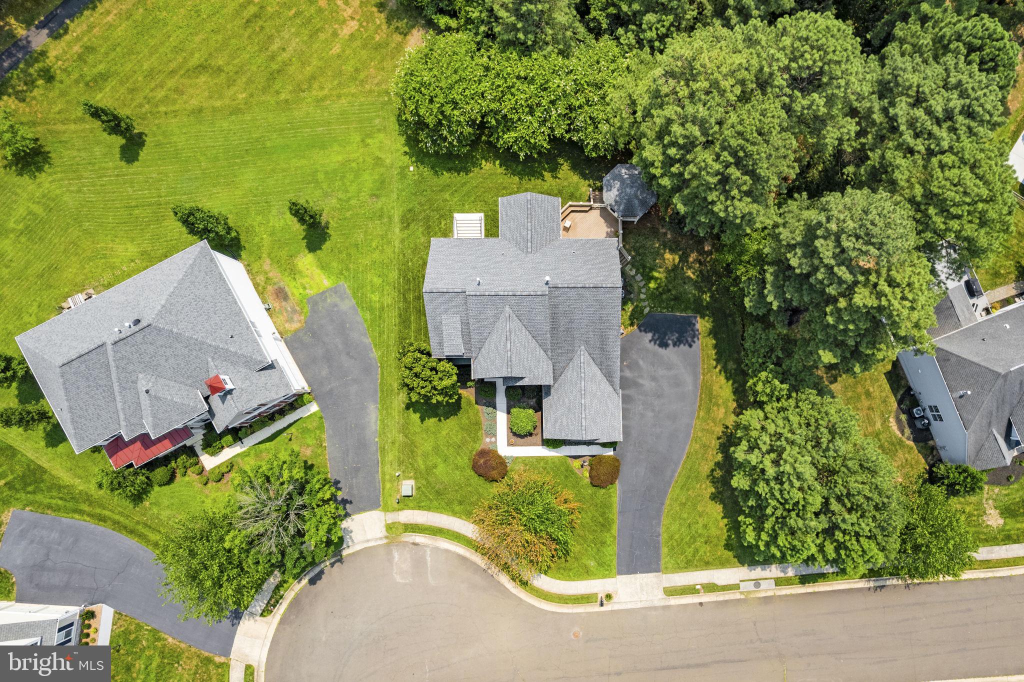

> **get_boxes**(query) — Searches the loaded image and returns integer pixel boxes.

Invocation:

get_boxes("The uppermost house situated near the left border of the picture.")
[15,239,313,472]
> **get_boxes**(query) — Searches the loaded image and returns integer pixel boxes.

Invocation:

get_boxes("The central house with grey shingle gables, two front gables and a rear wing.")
[423,192,623,443]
